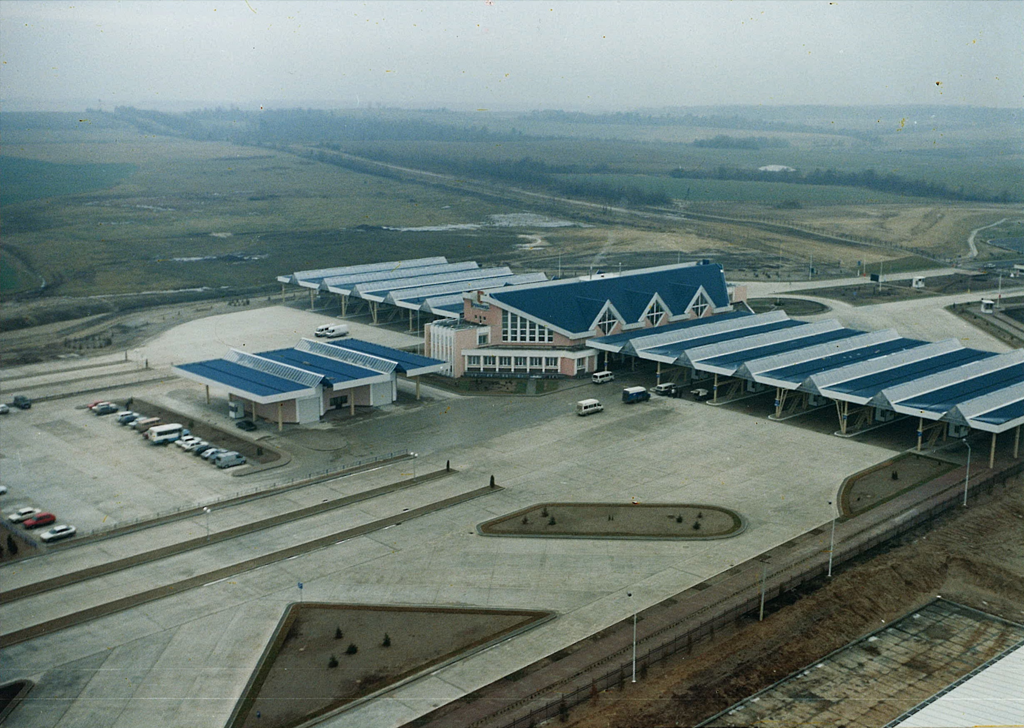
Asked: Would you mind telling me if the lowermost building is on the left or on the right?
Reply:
right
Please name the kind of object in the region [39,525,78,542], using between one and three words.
car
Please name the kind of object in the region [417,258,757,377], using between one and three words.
building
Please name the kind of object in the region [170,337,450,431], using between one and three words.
building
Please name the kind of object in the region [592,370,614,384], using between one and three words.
vehicle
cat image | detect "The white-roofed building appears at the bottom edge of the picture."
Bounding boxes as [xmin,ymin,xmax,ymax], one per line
[870,629,1024,728]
